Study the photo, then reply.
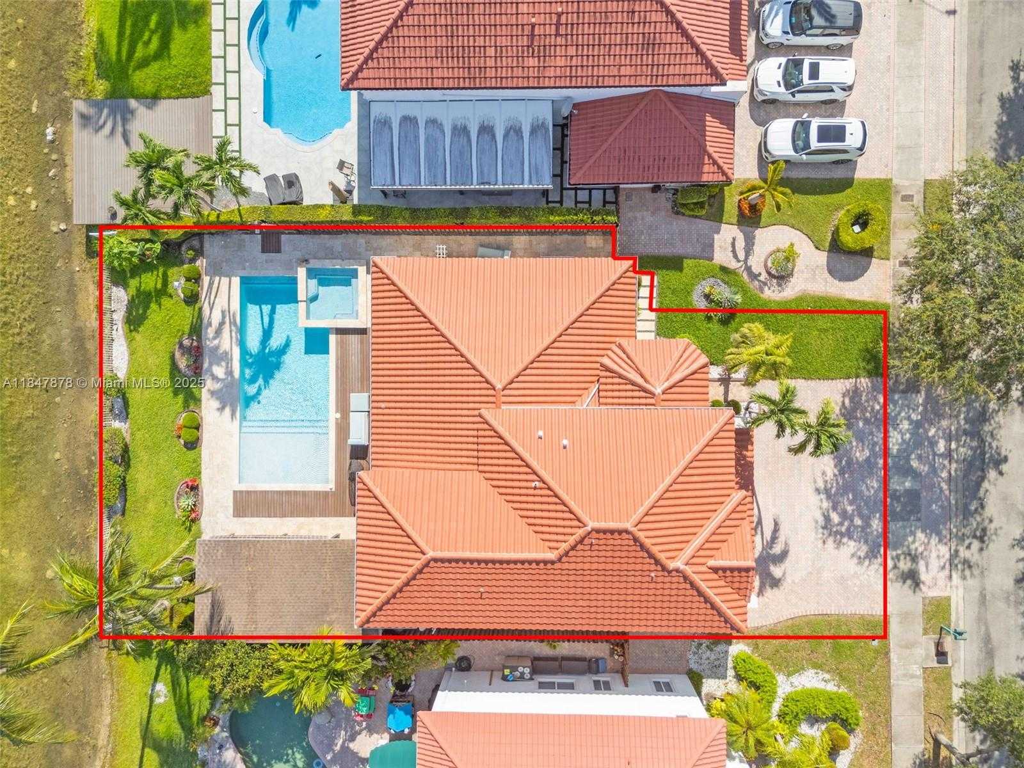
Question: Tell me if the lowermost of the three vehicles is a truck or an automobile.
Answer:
automobile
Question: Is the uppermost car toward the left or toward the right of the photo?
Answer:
right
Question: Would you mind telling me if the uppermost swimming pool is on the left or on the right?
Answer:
left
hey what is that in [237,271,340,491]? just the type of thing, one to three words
swimming pool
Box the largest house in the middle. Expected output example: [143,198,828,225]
[352,254,761,637]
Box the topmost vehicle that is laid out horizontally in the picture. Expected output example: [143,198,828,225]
[760,0,864,46]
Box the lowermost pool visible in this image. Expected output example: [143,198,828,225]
[225,679,327,768]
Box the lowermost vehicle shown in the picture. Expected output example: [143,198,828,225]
[761,110,867,165]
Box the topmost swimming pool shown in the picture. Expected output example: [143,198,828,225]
[248,0,353,144]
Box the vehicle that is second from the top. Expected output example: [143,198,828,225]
[753,49,856,105]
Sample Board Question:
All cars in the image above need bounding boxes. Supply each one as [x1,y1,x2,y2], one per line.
[753,49,856,105]
[760,0,864,46]
[761,110,867,165]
